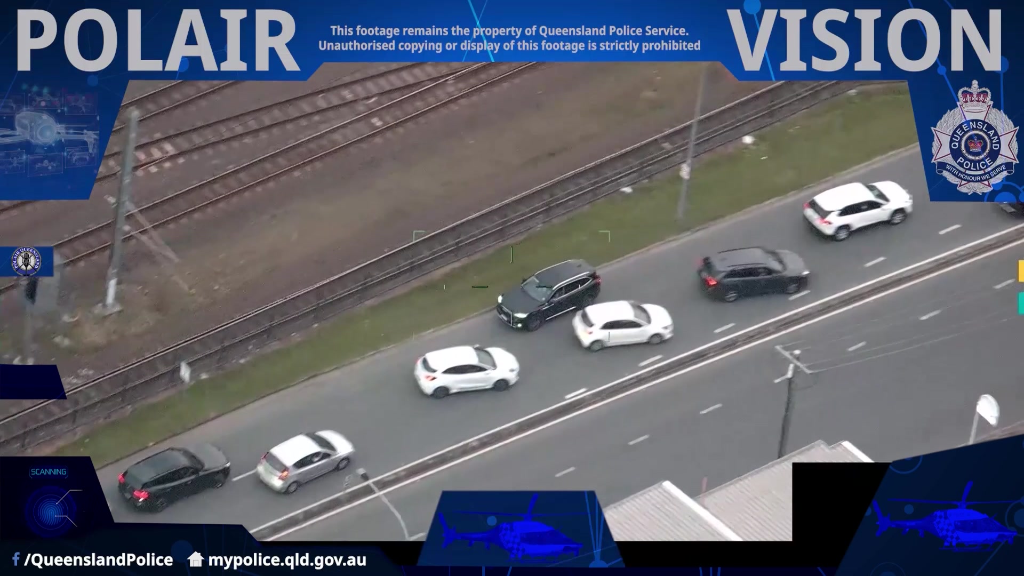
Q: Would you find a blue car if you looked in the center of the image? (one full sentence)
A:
No, in the center of the image there is no blue car.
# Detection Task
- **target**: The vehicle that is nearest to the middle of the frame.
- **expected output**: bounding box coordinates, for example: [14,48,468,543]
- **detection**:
[495,254,603,332]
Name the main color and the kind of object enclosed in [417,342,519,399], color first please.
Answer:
white car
